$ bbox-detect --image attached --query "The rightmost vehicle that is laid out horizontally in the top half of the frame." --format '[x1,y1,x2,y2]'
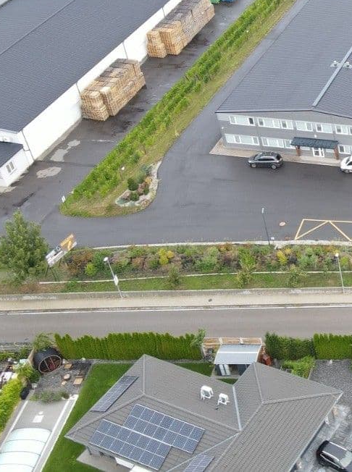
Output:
[246,152,284,169]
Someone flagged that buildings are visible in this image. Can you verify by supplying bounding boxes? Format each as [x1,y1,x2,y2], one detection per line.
[63,353,343,472]
[0,0,174,165]
[214,0,352,169]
